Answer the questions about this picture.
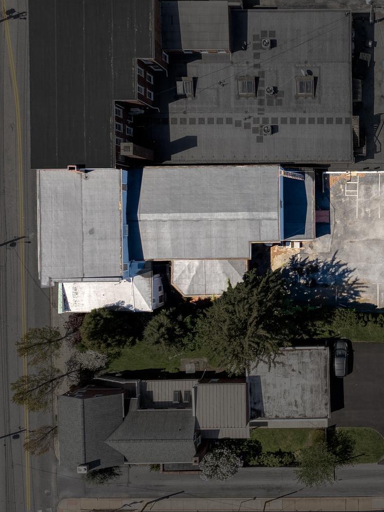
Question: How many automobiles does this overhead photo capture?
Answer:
1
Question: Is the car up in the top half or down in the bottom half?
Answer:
bottom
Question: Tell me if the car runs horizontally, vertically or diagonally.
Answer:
vertically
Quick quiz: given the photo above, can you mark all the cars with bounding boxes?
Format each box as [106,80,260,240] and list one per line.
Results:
[331,338,351,377]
